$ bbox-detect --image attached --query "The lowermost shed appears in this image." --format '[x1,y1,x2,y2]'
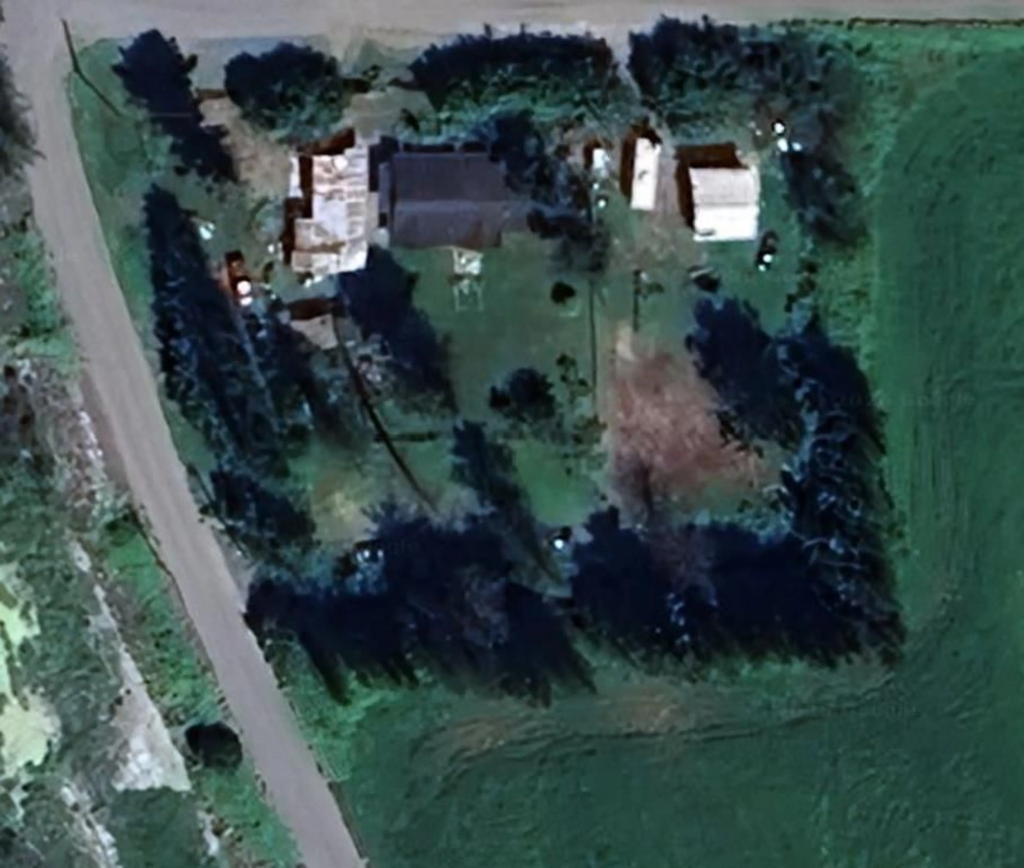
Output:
[293,315,343,354]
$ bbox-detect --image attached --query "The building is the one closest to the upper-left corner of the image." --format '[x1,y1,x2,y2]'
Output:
[289,148,379,274]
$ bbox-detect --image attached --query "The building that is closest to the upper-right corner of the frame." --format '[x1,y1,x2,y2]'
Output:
[688,165,761,245]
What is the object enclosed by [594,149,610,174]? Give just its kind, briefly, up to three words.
shed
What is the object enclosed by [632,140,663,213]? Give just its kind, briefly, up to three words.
building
